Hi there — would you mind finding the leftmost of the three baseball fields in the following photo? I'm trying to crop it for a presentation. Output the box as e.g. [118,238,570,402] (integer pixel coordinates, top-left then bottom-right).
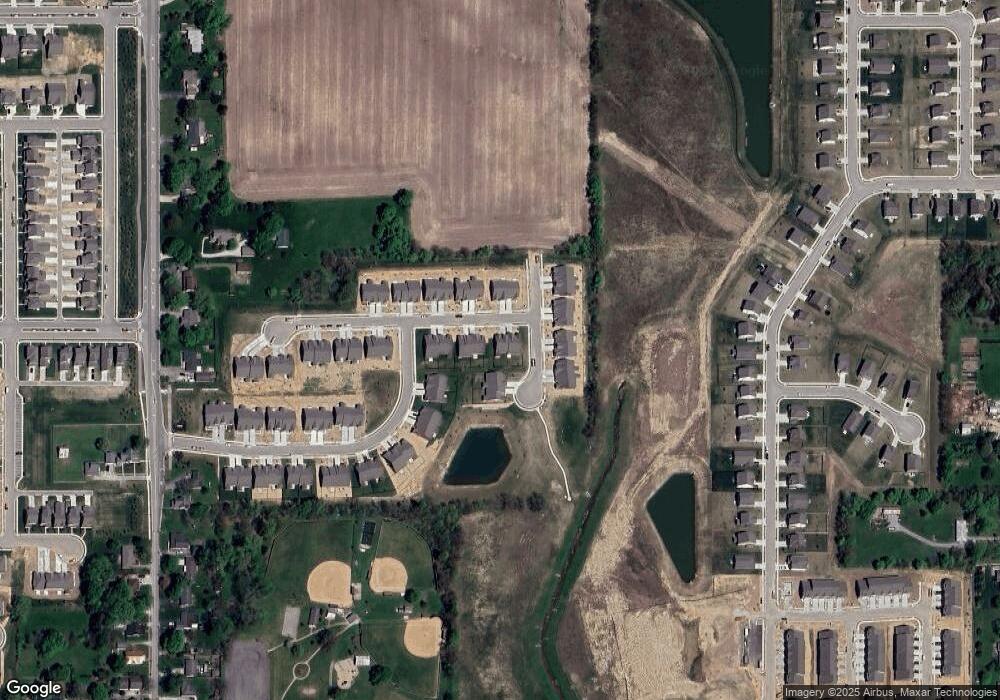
[266,517,354,607]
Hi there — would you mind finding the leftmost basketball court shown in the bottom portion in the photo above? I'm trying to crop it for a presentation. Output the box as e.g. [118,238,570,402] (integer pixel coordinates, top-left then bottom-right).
[282,606,299,638]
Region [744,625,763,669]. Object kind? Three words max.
building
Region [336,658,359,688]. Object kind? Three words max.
playground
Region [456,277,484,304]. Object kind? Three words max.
house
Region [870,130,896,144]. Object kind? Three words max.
house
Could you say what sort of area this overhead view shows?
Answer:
residential area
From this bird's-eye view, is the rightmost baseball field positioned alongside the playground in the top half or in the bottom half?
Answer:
bottom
